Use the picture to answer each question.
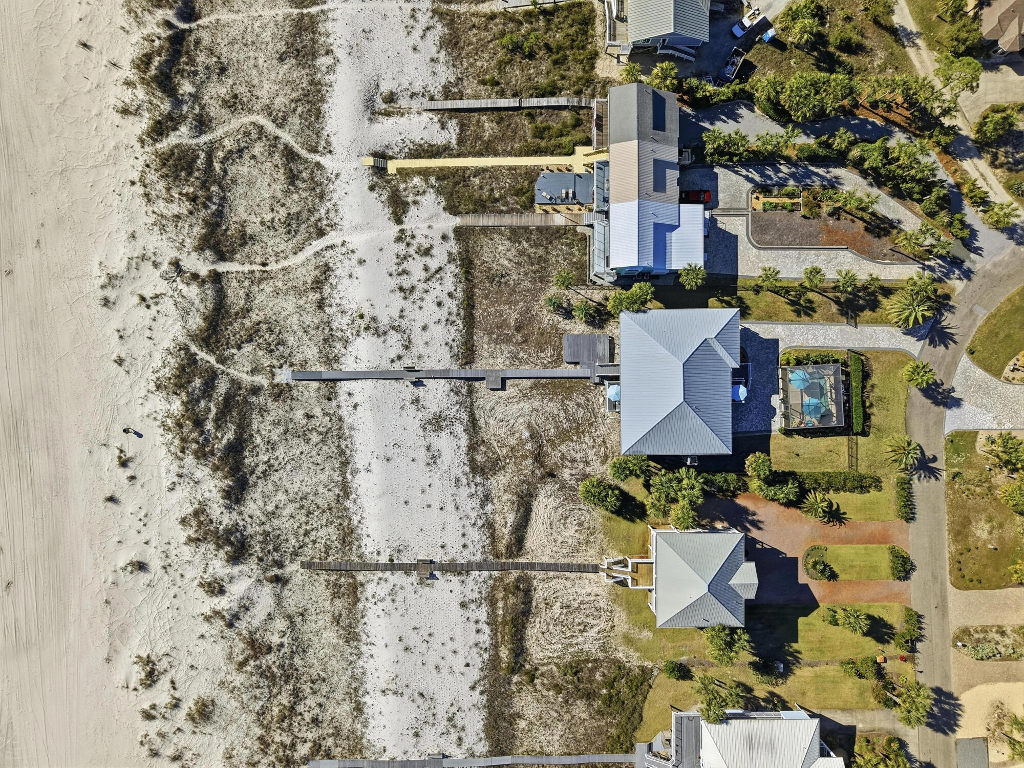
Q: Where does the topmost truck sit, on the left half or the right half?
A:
right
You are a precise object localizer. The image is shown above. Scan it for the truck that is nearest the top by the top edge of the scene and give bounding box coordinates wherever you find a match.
[731,3,769,41]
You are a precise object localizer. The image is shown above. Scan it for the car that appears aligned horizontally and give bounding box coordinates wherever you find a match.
[679,188,711,204]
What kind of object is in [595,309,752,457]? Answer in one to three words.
house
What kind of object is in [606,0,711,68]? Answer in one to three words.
house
